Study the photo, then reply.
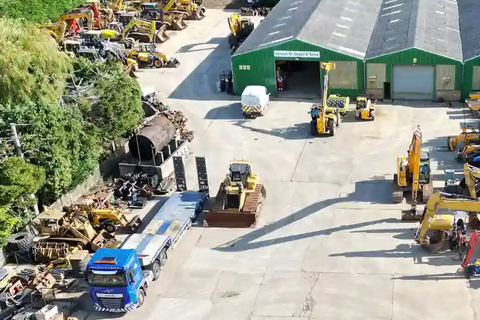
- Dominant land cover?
paved ground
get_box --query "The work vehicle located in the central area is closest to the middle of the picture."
[203,149,261,217]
